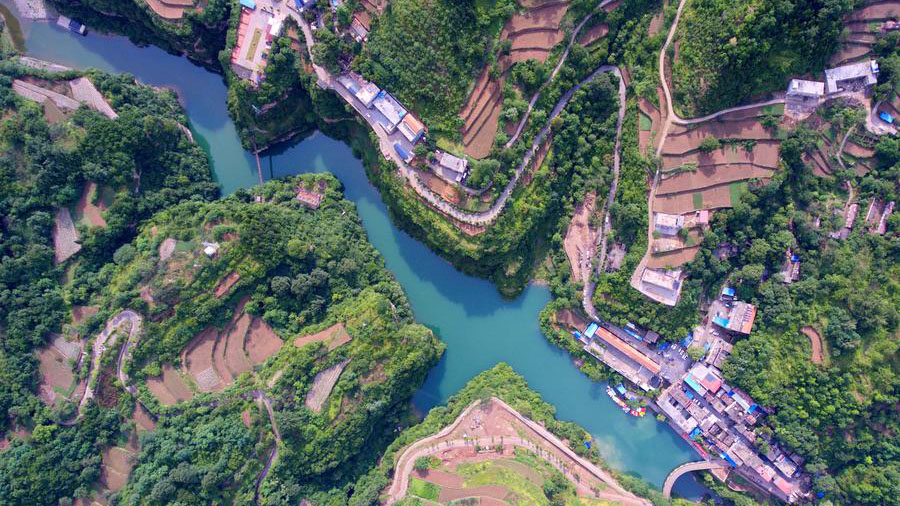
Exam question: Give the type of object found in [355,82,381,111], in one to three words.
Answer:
house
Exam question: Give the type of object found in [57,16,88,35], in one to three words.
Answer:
vessel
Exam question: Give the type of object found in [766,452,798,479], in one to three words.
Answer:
house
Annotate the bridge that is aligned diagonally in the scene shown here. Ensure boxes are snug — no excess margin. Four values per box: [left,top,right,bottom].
[658,457,723,506]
